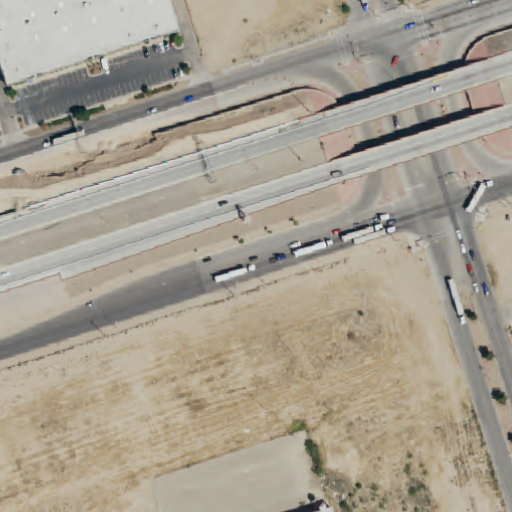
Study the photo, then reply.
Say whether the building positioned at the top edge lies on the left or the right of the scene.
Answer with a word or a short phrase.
left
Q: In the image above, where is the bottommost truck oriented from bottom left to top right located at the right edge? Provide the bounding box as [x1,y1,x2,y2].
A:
[466,180,496,212]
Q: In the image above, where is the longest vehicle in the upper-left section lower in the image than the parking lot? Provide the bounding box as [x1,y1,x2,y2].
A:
[42,130,85,148]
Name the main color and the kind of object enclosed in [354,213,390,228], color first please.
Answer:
gray vehicle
